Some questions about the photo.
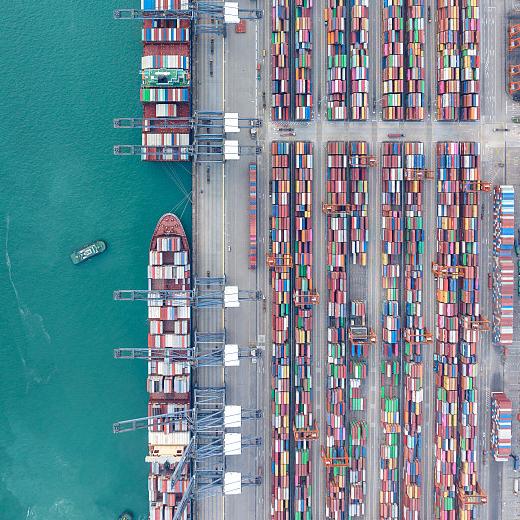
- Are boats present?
Yes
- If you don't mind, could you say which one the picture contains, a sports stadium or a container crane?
container crane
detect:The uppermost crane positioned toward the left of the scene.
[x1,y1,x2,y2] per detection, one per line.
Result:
[113,2,260,41]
